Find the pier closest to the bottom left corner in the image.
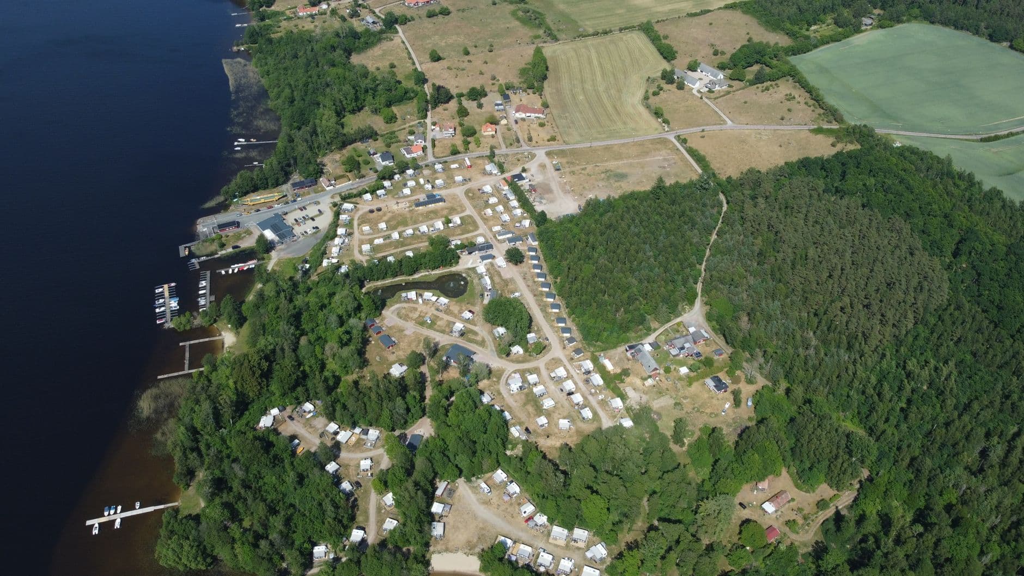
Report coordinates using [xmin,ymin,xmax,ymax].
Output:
[86,501,179,526]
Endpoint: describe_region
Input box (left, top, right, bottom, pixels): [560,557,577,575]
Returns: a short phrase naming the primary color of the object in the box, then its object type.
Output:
white camper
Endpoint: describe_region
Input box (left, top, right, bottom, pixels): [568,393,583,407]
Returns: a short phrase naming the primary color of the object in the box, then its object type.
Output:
white camper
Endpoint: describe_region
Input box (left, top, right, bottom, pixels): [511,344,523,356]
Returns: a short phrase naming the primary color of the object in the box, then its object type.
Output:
white vehicle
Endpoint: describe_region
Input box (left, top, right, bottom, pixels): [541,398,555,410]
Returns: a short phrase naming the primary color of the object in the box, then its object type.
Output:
white vehicle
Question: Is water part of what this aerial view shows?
Yes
